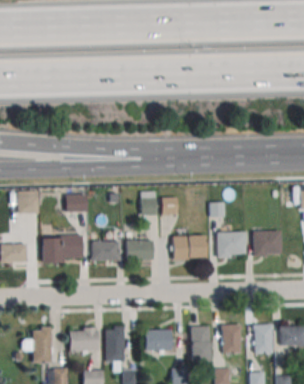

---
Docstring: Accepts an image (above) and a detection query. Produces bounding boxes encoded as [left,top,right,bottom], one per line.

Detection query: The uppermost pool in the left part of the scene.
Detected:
[95,214,109,228]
